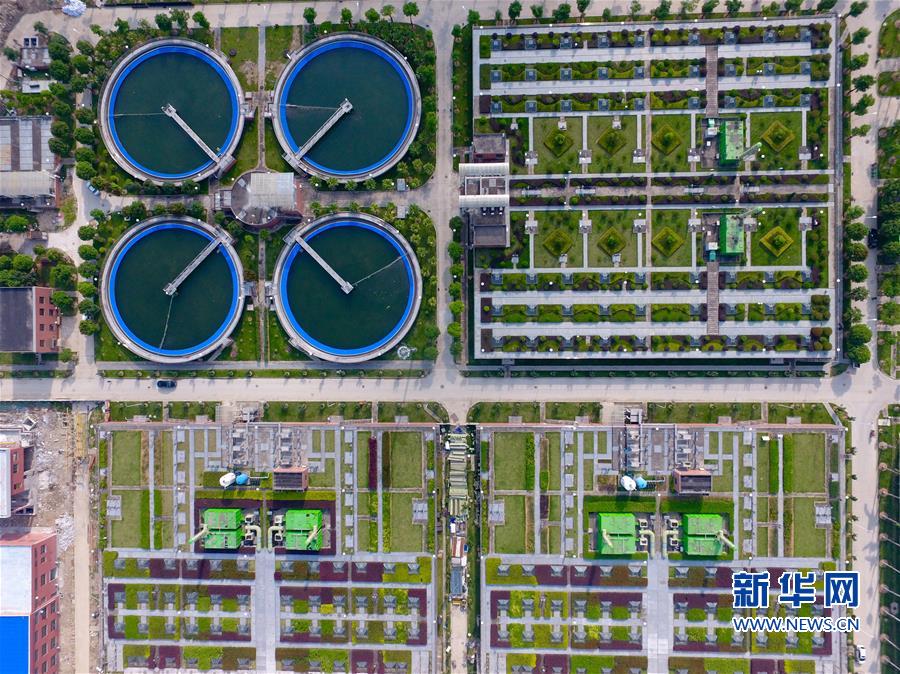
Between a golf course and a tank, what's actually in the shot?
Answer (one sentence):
The one in the frame is a tank.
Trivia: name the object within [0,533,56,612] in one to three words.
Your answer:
building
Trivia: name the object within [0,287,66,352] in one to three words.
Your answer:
building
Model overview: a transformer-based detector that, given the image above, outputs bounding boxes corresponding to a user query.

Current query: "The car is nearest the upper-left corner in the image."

[84,180,102,197]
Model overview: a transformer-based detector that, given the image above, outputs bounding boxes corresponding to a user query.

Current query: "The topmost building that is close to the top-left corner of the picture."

[18,38,61,80]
